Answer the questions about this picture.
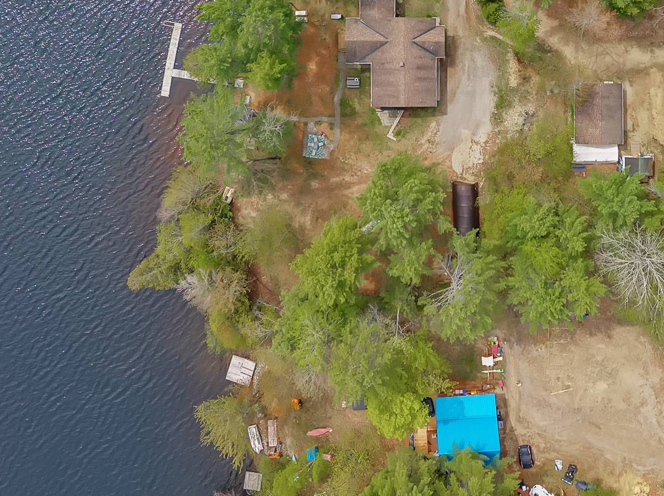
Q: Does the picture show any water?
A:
Yes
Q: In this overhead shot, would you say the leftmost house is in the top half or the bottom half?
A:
top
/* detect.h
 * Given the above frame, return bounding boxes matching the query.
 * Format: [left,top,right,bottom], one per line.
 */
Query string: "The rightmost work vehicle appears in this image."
[560,466,577,487]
